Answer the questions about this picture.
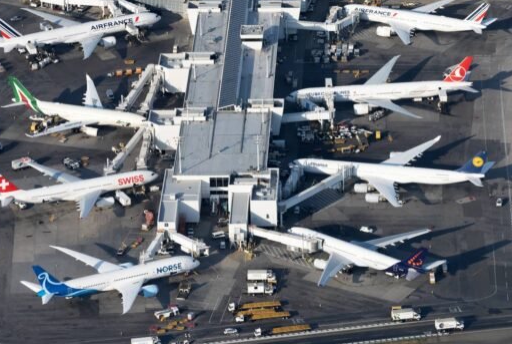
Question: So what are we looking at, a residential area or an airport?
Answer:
airport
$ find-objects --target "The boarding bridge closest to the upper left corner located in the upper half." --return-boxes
[66,0,124,20]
